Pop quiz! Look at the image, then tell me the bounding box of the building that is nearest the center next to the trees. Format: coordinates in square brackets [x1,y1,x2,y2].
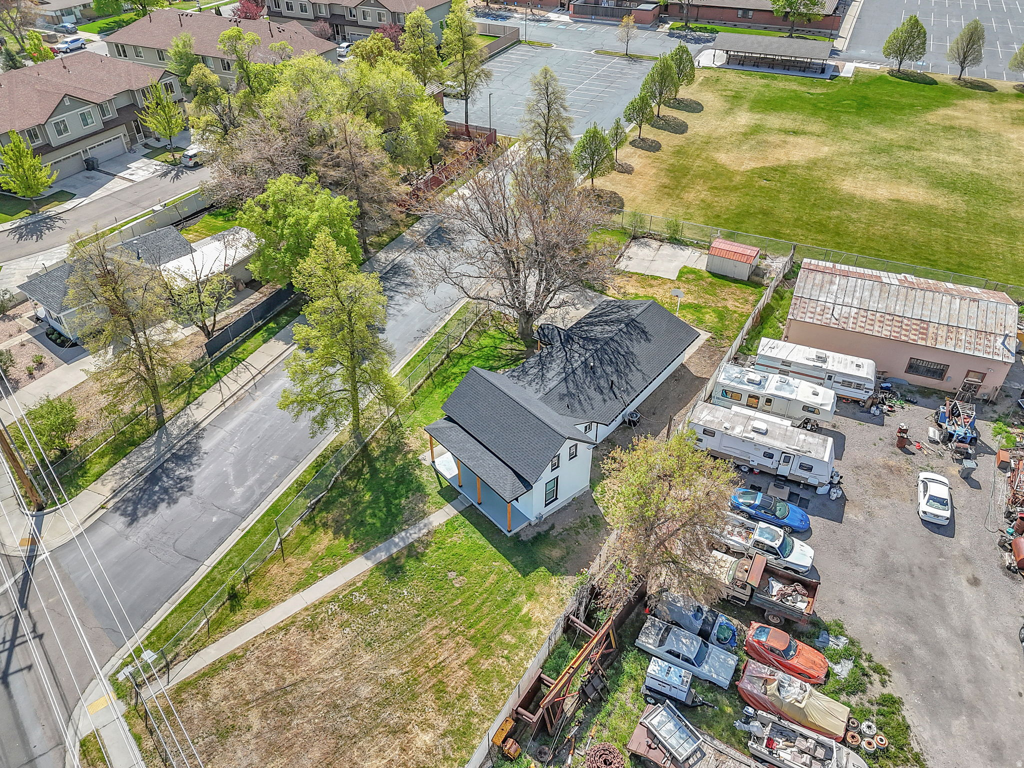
[424,299,702,537]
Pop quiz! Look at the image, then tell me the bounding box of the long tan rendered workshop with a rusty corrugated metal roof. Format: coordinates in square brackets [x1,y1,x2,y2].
[782,257,1024,405]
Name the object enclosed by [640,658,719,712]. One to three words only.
trailer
